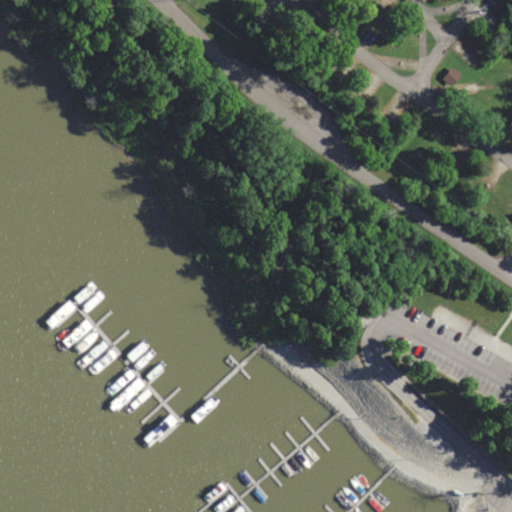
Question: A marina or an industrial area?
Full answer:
The picture captures a marina.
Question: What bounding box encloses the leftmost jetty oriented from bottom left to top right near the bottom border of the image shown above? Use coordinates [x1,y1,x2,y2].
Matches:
[224,414,337,510]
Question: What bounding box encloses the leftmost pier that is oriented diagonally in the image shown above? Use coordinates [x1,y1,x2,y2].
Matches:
[76,306,184,444]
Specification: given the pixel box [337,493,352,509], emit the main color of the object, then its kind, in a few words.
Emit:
gray boat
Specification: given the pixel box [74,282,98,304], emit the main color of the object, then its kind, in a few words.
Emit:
white boat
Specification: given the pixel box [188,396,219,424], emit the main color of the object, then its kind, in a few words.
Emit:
white boat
